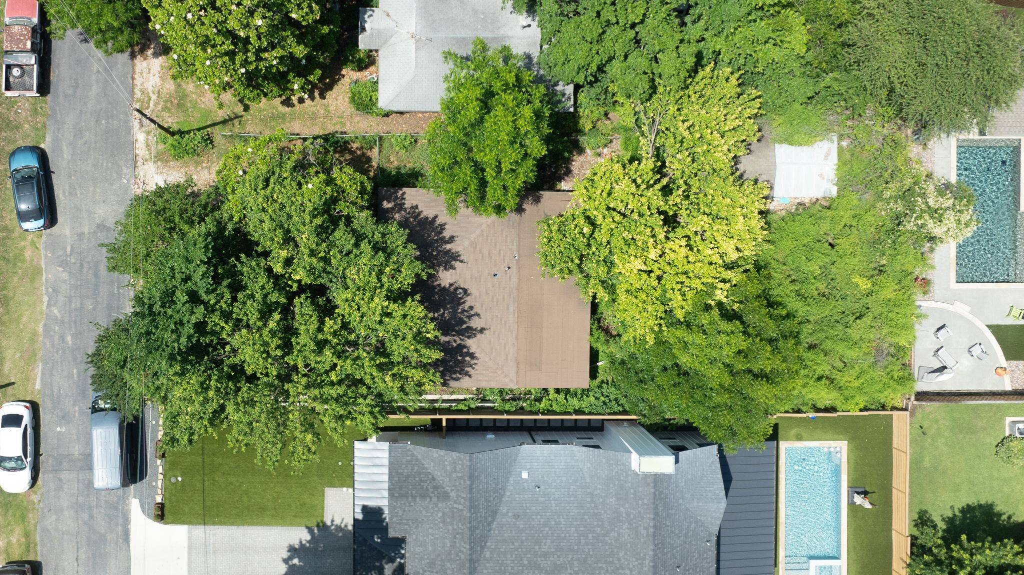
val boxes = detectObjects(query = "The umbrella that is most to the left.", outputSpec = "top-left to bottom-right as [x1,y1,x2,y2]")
[847,487,877,508]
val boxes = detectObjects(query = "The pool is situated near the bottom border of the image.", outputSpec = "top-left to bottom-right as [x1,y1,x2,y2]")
[780,442,848,575]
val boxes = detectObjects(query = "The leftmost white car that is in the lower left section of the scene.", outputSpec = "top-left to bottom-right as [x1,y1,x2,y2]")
[0,401,39,491]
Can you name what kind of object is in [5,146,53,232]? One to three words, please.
car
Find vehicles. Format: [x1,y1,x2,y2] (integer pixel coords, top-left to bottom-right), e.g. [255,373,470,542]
[89,394,138,496]
[0,0,47,100]
[5,146,53,232]
[0,401,39,491]
[0,562,34,575]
